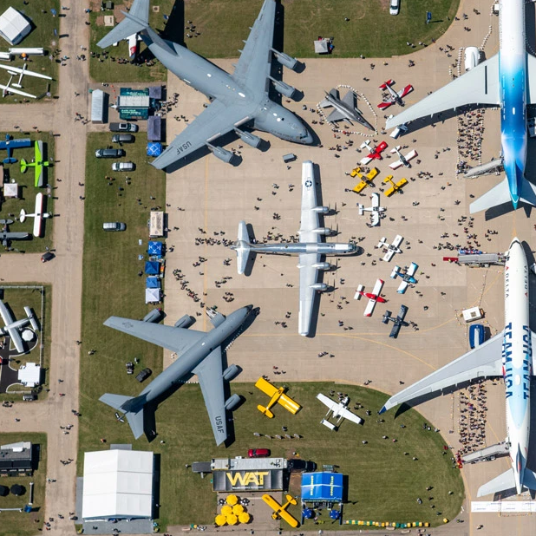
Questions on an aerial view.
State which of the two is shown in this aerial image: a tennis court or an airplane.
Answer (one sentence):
It is an airplane that can be seen here.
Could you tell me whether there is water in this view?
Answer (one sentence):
No, the scene doesn't show any water.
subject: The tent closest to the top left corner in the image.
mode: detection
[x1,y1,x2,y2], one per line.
[0,6,31,45]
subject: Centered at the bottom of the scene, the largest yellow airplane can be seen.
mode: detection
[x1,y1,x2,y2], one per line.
[255,377,300,420]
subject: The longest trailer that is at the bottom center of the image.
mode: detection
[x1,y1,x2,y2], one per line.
[192,458,289,490]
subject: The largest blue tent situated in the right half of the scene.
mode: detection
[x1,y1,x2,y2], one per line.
[302,473,344,528]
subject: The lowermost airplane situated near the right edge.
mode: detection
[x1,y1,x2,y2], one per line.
[379,238,536,497]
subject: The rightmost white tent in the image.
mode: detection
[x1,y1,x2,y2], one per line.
[82,451,154,522]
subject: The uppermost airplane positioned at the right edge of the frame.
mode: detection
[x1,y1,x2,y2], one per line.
[388,0,536,214]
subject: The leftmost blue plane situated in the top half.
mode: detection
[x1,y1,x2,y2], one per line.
[0,133,31,164]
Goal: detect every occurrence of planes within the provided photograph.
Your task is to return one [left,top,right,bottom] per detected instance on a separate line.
[101,305,253,445]
[122,37,145,60]
[19,139,51,185]
[390,262,419,294]
[379,79,415,110]
[358,192,388,226]
[317,87,375,131]
[353,278,389,316]
[388,111,412,140]
[255,377,300,420]
[388,0,536,214]
[263,495,296,526]
[379,238,536,497]
[0,221,29,250]
[391,144,420,170]
[0,68,37,98]
[0,300,39,353]
[352,165,380,193]
[97,0,315,169]
[361,138,390,165]
[231,162,358,333]
[378,234,404,261]
[18,192,54,236]
[318,391,363,431]
[0,133,31,164]
[0,64,52,86]
[381,303,411,338]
